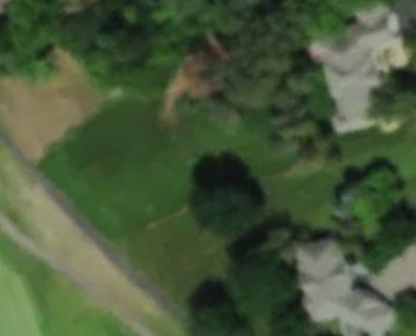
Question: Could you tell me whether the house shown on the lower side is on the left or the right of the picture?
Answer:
right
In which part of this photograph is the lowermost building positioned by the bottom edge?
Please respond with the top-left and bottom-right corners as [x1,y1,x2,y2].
[294,227,401,336]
